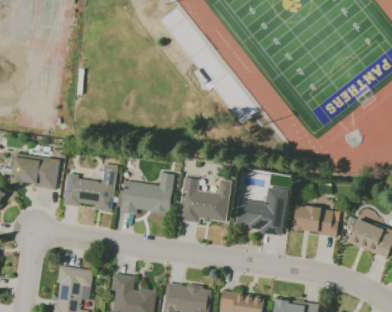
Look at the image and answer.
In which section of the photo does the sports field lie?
top right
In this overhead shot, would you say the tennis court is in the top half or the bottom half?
top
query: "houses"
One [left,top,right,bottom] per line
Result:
[348,218,392,259]
[54,266,92,312]
[108,274,156,312]
[13,157,61,188]
[164,283,212,312]
[63,164,118,212]
[218,291,264,312]
[181,176,232,224]
[292,206,340,236]
[272,298,320,312]
[240,188,288,234]
[116,173,176,216]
